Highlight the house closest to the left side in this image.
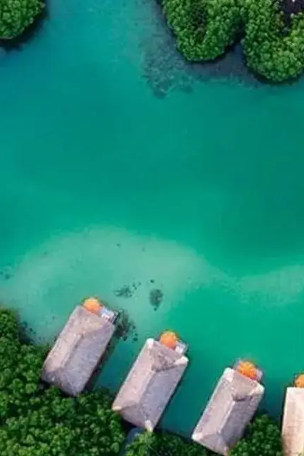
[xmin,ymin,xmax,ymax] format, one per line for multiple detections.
[44,302,118,396]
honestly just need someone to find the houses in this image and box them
[284,376,304,456]
[192,362,264,456]
[44,302,118,396]
[113,336,189,431]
